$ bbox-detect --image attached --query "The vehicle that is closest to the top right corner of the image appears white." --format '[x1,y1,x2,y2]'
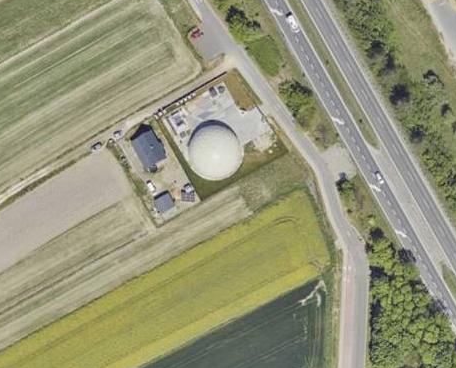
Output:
[286,13,300,31]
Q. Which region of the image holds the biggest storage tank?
center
